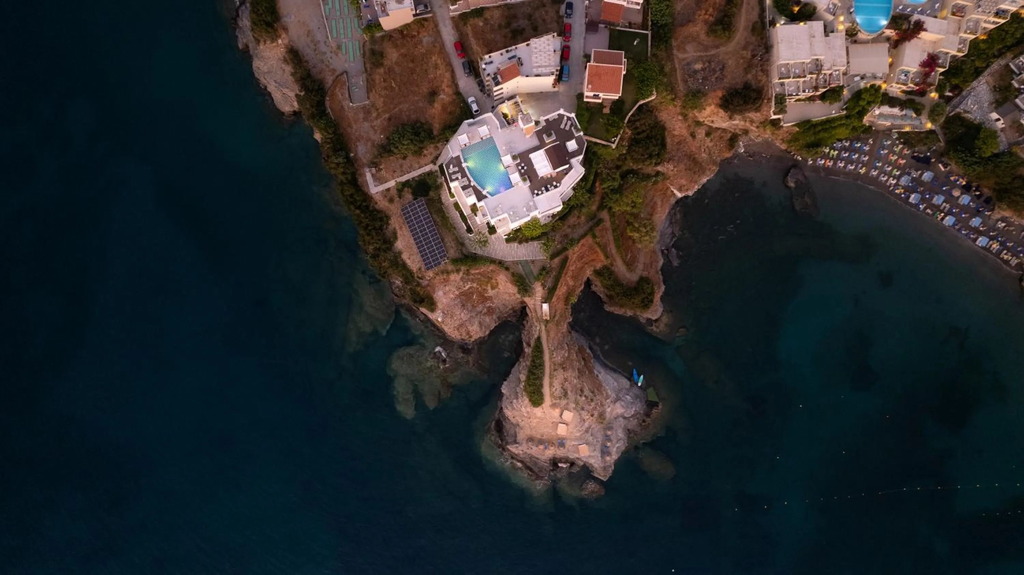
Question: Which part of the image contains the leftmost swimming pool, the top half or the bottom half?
top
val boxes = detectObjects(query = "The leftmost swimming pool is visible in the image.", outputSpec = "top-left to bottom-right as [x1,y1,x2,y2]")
[461,136,513,199]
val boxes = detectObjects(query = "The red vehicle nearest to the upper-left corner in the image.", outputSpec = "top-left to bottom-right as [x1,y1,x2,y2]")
[453,39,466,59]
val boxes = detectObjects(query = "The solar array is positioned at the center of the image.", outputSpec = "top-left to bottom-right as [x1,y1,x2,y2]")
[401,197,450,271]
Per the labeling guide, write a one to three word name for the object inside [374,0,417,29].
house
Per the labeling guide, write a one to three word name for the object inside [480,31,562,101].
house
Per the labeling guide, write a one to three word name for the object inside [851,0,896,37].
swimming pool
